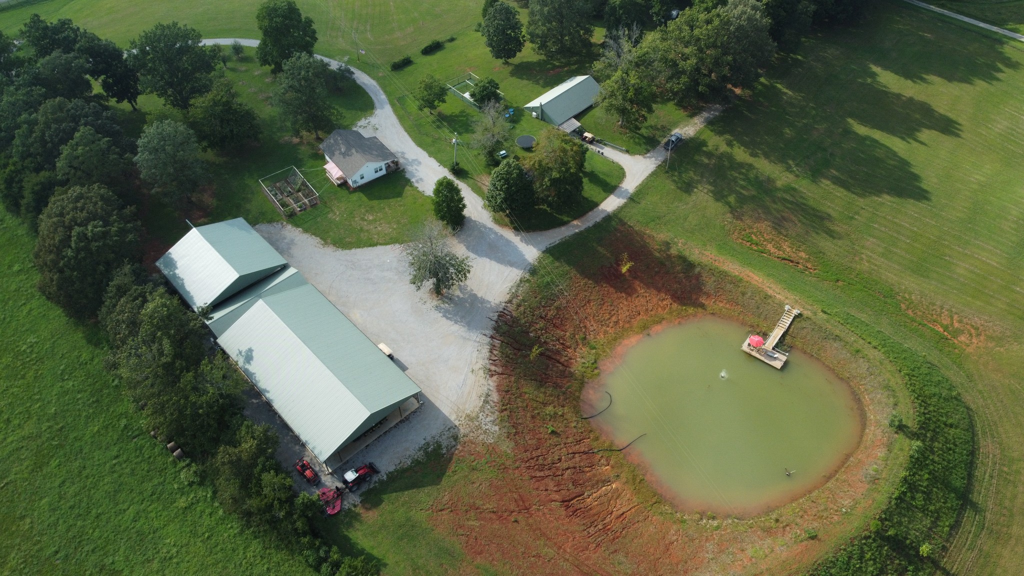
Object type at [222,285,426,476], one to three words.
barn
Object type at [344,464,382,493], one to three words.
work vehicle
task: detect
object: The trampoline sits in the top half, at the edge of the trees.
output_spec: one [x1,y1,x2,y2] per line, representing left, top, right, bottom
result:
[516,136,536,151]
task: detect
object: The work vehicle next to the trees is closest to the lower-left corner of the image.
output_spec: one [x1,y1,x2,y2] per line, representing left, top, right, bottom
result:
[295,459,320,487]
